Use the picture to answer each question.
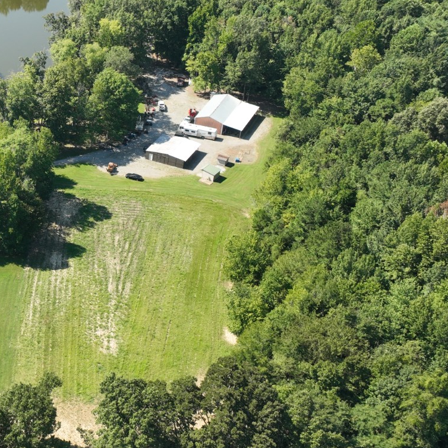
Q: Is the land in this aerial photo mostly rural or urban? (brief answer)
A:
rural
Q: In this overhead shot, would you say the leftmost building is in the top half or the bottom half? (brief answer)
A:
top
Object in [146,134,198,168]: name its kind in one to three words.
building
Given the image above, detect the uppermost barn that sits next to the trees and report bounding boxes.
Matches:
[195,94,258,139]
